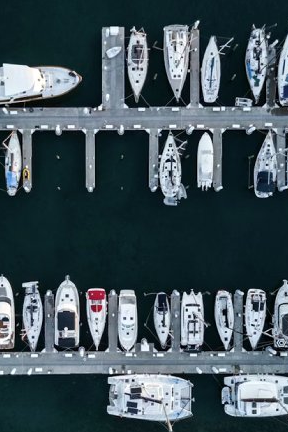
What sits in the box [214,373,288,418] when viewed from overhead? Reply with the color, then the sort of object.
white boat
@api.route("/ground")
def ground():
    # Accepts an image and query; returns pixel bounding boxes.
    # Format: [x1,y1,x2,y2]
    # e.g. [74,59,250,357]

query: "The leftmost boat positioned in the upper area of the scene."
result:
[0,131,21,194]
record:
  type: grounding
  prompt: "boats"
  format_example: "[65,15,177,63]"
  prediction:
[19,280,42,351]
[86,288,107,351]
[254,129,288,197]
[214,373,288,418]
[158,130,187,198]
[197,130,213,189]
[155,25,194,106]
[54,275,79,353]
[243,288,282,351]
[0,274,16,351]
[148,291,176,349]
[215,290,255,351]
[180,290,211,351]
[0,131,21,194]
[221,387,230,405]
[179,185,188,200]
[262,278,288,350]
[107,370,199,432]
[278,31,288,107]
[162,197,179,206]
[120,27,154,107]
[0,63,84,108]
[198,33,233,107]
[246,22,288,105]
[118,289,138,351]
